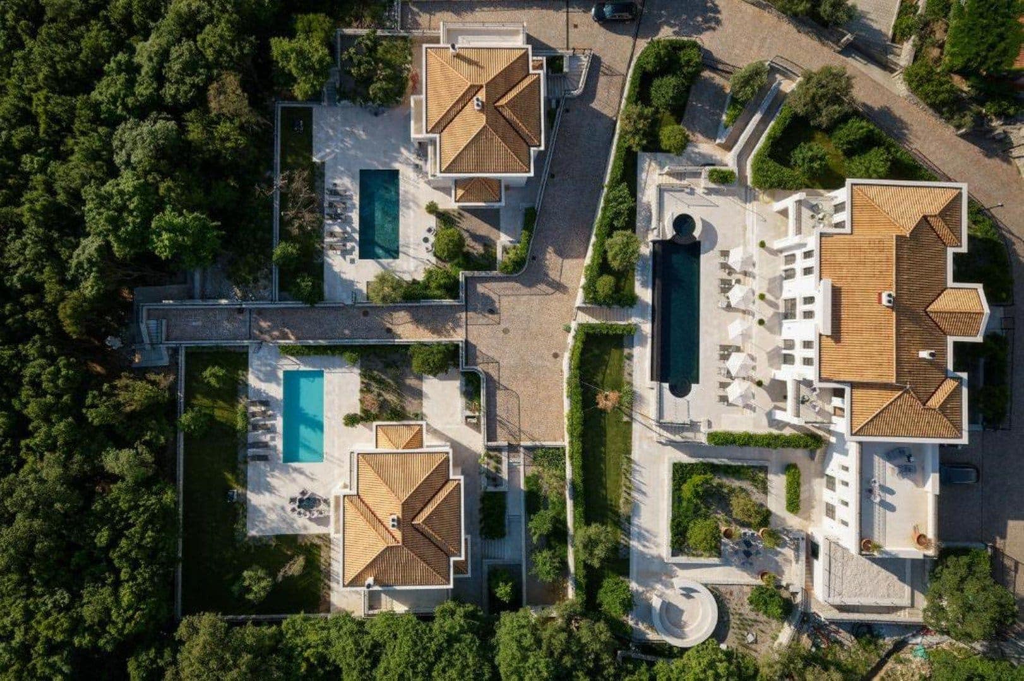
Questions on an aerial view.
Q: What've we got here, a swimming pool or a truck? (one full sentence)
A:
I can see a swimming pool in this picture.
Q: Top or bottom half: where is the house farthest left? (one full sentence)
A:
You can find the house farthest left in the bottom half.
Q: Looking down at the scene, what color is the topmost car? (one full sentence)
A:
The topmost car is black.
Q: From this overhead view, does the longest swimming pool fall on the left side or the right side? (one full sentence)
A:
You can find the longest swimming pool on the right side of the picture.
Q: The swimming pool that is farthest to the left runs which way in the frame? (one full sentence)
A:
In this picture, the swimming pool that is farthest to the left lies vertically.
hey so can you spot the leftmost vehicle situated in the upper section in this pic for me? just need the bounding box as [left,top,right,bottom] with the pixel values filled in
[591,0,638,24]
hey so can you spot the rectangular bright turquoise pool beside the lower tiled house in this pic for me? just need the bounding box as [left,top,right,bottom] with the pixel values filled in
[281,368,326,466]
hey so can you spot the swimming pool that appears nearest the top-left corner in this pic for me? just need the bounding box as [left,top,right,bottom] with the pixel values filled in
[357,167,401,262]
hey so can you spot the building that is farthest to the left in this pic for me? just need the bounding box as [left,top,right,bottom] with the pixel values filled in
[332,422,471,615]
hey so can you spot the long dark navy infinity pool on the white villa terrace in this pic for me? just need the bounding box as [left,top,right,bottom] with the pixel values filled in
[661,242,699,395]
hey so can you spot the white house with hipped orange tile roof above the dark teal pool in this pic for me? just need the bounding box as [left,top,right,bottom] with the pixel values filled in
[411,21,546,208]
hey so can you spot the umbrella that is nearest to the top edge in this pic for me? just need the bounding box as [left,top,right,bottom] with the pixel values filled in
[726,244,753,272]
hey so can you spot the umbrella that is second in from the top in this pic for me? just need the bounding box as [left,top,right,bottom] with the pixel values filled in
[727,282,753,311]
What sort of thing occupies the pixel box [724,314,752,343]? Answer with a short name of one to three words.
umbrella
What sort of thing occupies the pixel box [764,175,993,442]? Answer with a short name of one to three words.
house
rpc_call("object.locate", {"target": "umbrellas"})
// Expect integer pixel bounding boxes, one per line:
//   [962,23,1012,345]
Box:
[725,350,752,379]
[727,282,753,311]
[724,314,752,343]
[726,377,752,406]
[726,244,753,272]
